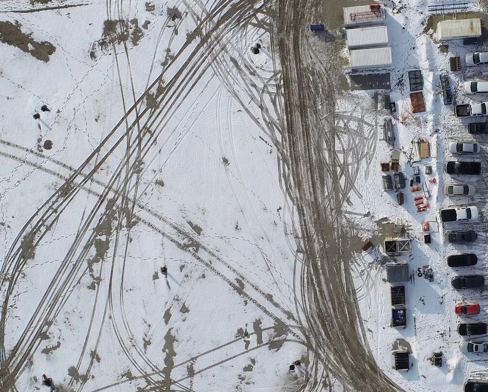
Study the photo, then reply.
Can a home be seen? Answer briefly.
No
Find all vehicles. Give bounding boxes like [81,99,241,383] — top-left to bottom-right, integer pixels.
[439,205,478,222]
[458,340,488,354]
[443,182,476,198]
[467,123,488,133]
[457,322,487,337]
[464,50,488,67]
[444,160,481,176]
[448,229,477,244]
[455,301,480,317]
[453,100,488,117]
[451,274,484,290]
[463,380,488,392]
[446,253,477,268]
[463,80,488,95]
[449,141,480,155]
